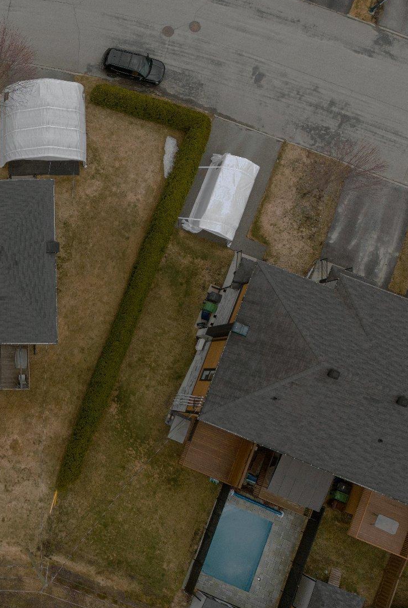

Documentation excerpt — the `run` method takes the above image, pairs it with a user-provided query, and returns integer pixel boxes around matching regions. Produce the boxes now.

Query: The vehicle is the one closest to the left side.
[98,45,166,88]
